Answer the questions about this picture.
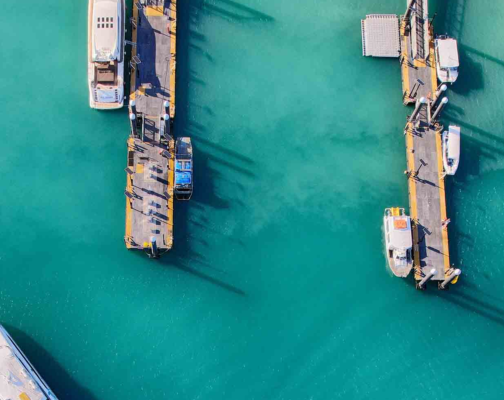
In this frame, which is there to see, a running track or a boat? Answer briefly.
boat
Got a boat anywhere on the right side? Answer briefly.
Yes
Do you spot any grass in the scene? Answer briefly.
No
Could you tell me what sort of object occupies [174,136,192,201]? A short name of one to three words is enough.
boat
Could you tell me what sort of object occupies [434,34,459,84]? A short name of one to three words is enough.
boat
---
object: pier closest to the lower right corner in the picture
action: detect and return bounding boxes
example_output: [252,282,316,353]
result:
[402,121,450,283]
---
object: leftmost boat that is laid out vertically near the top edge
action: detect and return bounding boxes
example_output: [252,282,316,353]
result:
[87,0,130,112]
